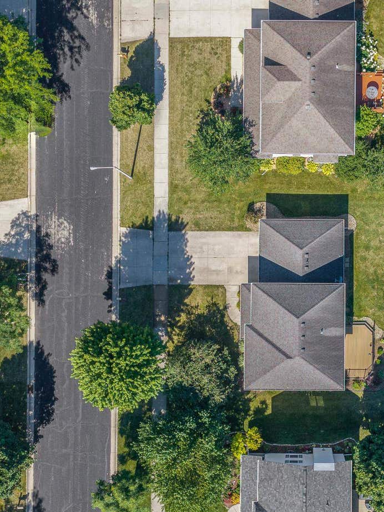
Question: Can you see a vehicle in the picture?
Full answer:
No, I can't see a single vehicle in this photo.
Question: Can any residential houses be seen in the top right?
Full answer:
Yes, the scene does show a residential house in the top right.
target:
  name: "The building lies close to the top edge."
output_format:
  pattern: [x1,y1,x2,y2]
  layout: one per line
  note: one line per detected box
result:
[242,0,356,175]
